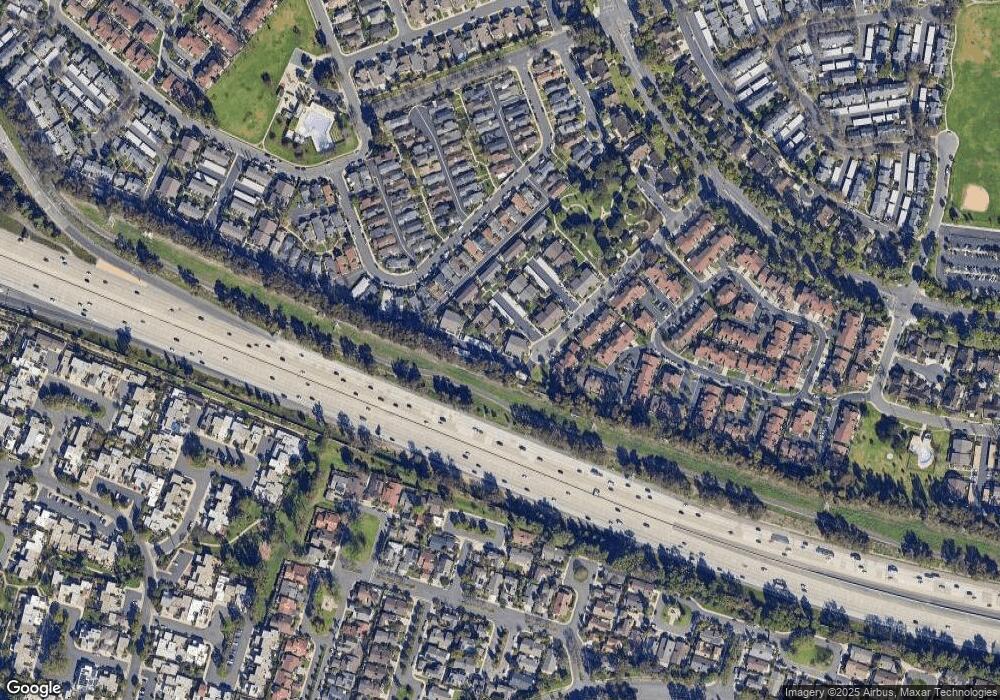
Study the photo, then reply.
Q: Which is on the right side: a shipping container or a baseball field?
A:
baseball field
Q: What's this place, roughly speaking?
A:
residential area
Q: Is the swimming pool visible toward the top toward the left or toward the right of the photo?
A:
left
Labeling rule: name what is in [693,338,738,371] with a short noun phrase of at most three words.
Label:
house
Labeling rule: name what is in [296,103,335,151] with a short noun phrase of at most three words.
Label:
swimming pool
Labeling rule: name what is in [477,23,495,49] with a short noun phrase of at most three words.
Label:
house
